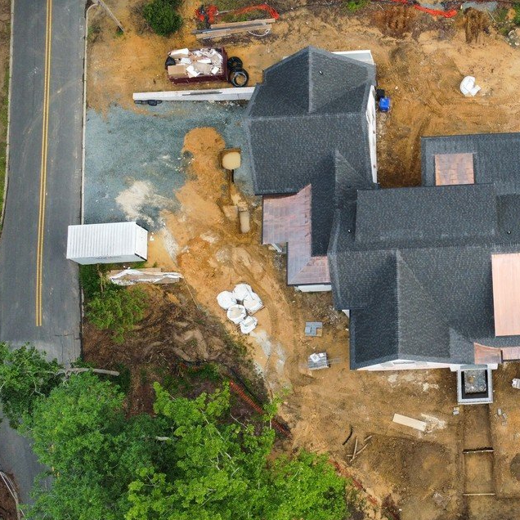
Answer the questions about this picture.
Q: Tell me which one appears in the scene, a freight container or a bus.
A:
freight container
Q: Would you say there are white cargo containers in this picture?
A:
Yes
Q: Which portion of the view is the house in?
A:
right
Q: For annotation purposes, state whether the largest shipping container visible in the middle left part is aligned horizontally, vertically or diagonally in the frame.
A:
horizontally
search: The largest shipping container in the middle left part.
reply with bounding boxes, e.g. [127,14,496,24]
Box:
[66,221,148,266]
